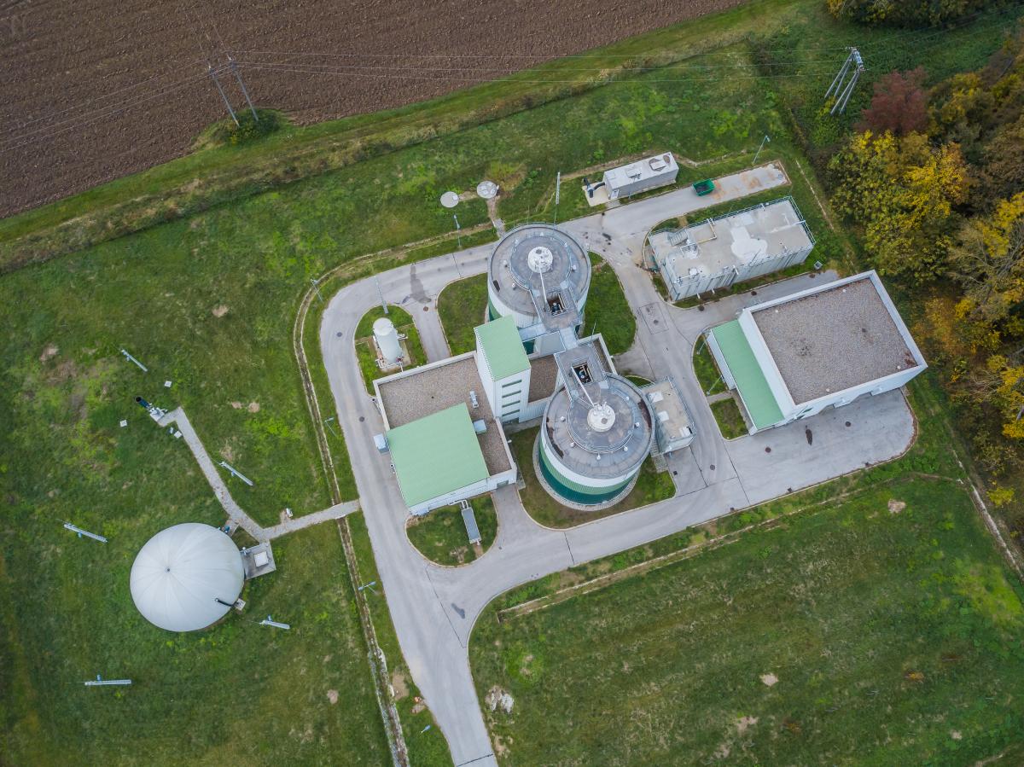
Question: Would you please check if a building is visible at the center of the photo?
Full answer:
Yes, at the center of the photo there is a building.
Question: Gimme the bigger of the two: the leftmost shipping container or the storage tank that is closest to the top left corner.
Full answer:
The shipping container takes up more space than the storage tank.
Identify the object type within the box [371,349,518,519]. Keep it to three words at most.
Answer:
building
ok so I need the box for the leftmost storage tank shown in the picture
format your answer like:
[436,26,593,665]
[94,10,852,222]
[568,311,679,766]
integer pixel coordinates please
[374,325,406,372]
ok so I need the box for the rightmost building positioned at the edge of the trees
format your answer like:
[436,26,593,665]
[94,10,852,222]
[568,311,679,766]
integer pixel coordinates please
[707,268,928,436]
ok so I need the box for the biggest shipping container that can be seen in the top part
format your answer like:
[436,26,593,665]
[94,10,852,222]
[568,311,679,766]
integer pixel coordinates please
[601,152,680,205]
